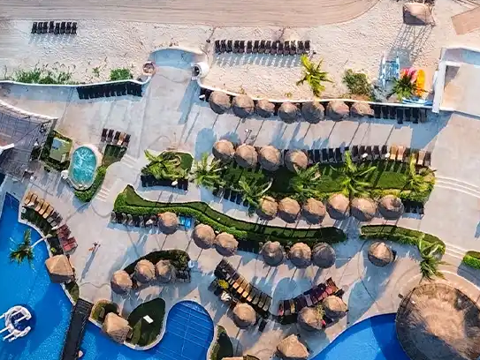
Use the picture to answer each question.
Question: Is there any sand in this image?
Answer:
Yes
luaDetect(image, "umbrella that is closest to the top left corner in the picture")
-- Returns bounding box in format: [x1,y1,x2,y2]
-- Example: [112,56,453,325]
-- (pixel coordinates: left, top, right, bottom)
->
[210,90,234,113]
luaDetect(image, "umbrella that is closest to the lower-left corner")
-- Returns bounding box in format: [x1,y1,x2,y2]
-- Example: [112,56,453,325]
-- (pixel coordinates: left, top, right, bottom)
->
[112,268,136,292]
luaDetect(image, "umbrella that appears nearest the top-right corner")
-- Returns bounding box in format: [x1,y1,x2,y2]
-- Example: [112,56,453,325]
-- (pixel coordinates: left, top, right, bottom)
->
[351,98,373,121]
